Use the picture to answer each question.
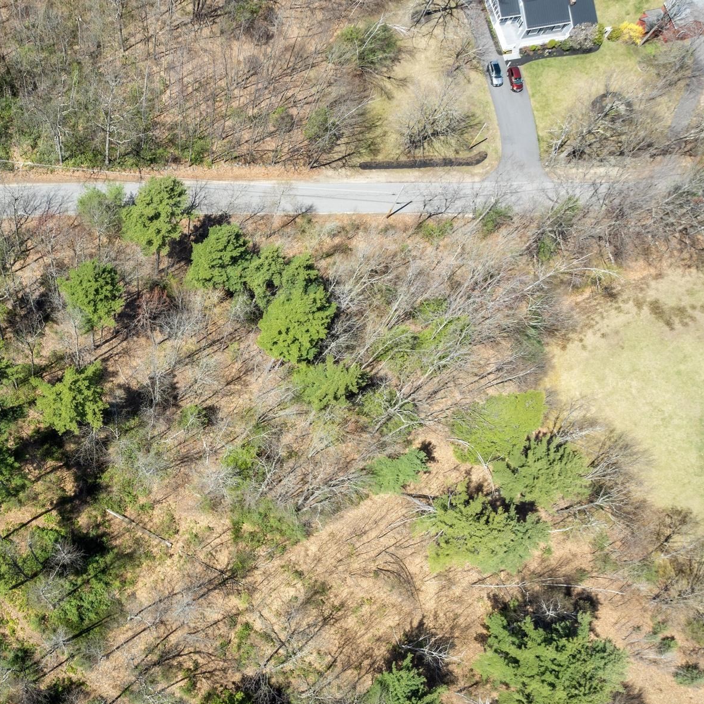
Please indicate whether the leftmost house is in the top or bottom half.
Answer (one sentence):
The top half of the photo is where the leftmost house is.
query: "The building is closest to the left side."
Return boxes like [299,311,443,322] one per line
[470,0,595,70]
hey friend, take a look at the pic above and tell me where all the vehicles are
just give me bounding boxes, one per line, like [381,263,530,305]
[488,59,507,86]
[509,64,527,91]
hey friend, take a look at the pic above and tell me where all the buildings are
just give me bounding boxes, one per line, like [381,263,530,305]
[470,0,595,70]
[627,0,704,52]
